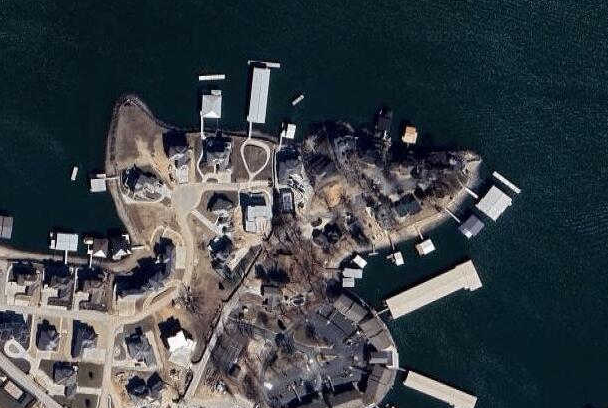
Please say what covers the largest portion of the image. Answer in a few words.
water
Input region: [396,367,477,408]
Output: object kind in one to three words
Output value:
pier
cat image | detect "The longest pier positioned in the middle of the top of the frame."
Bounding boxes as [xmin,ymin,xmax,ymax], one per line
[247,62,281,141]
